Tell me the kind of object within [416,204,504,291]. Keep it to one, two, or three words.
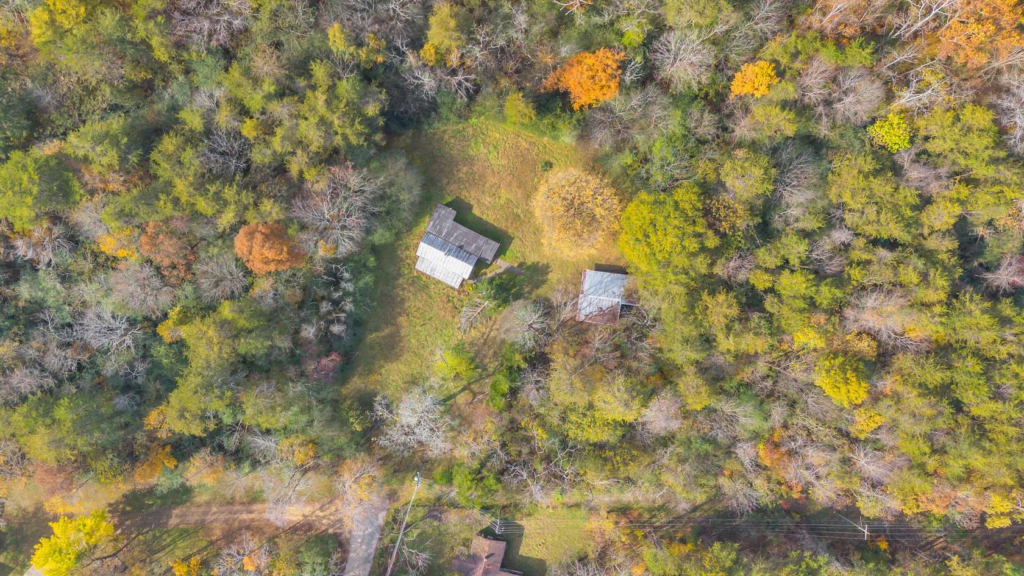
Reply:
house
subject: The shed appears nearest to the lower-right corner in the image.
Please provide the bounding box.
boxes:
[576,270,640,326]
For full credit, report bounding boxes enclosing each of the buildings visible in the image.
[416,204,504,291]
[452,532,523,576]
[576,270,640,326]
